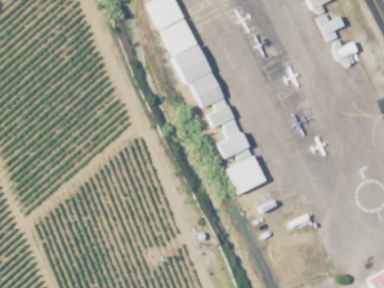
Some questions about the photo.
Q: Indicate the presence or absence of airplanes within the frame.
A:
Yes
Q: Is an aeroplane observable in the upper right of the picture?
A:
Yes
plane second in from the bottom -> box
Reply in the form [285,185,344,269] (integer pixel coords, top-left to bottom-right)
[292,114,309,136]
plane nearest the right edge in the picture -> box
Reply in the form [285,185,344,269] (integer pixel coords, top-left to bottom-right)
[310,136,326,156]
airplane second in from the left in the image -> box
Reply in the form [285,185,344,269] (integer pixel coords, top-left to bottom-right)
[253,36,270,56]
